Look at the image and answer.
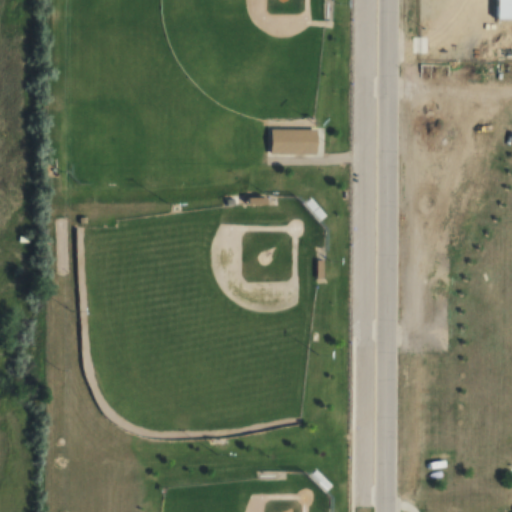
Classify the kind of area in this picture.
sports ground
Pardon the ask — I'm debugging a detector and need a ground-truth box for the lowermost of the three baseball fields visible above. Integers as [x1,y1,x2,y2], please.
[162,472,332,512]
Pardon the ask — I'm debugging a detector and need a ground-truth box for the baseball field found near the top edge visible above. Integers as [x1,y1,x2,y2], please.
[161,0,334,122]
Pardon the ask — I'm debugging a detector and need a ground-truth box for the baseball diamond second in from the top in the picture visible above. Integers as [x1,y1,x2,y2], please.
[77,196,326,441]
